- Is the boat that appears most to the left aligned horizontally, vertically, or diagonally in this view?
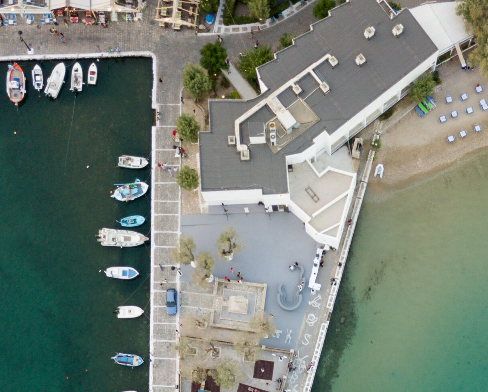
vertically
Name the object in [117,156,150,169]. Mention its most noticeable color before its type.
white boat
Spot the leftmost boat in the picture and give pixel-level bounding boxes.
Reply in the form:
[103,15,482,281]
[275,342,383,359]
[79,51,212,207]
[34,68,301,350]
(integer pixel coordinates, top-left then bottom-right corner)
[6,62,28,108]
